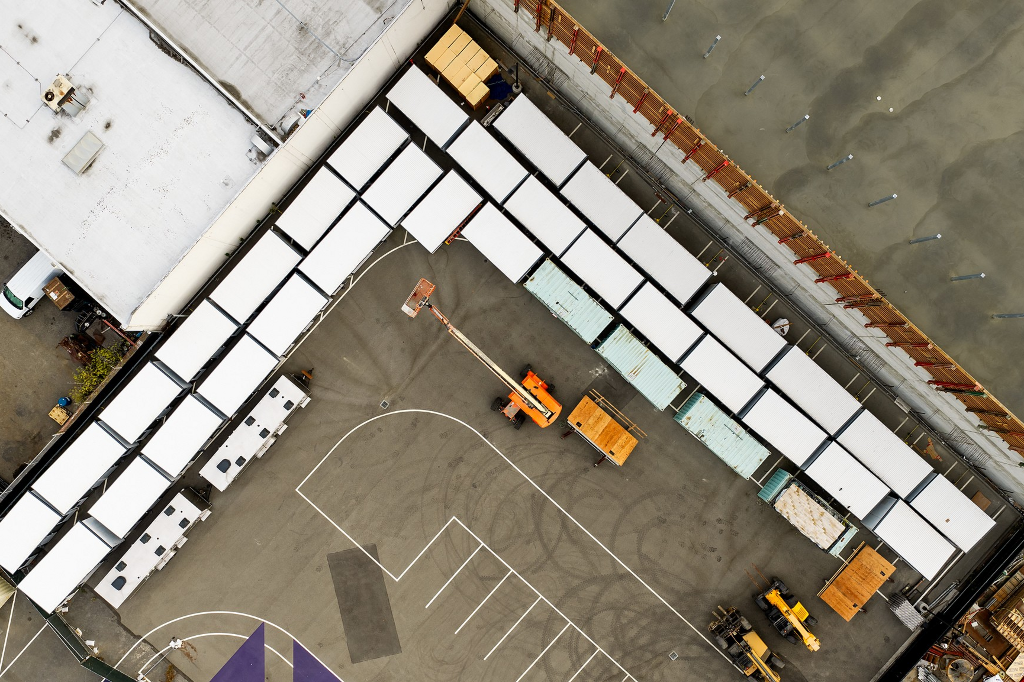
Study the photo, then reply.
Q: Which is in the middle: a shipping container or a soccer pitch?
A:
shipping container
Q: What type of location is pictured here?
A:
industrial area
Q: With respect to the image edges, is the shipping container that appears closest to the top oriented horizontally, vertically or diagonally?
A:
diagonally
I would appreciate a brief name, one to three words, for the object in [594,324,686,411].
shipping container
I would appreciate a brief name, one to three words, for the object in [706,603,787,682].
work vehicle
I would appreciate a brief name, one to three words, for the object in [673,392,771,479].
shipping container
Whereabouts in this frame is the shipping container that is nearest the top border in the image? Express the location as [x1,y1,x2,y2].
[523,258,613,343]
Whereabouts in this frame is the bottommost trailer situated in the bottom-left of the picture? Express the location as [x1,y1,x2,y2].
[96,483,214,609]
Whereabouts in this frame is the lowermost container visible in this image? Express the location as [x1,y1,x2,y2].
[756,467,859,557]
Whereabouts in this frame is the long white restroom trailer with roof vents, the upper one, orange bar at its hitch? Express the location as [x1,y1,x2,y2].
[199,365,316,492]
